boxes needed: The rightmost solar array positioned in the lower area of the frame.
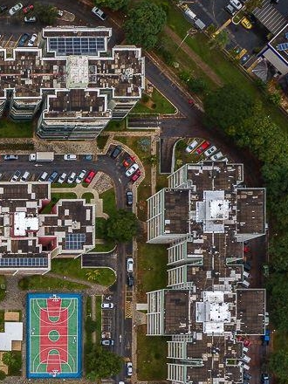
[65,233,85,249]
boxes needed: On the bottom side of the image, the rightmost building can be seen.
[143,160,265,384]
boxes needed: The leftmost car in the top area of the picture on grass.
[109,141,122,157]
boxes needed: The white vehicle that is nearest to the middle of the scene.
[125,163,139,177]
